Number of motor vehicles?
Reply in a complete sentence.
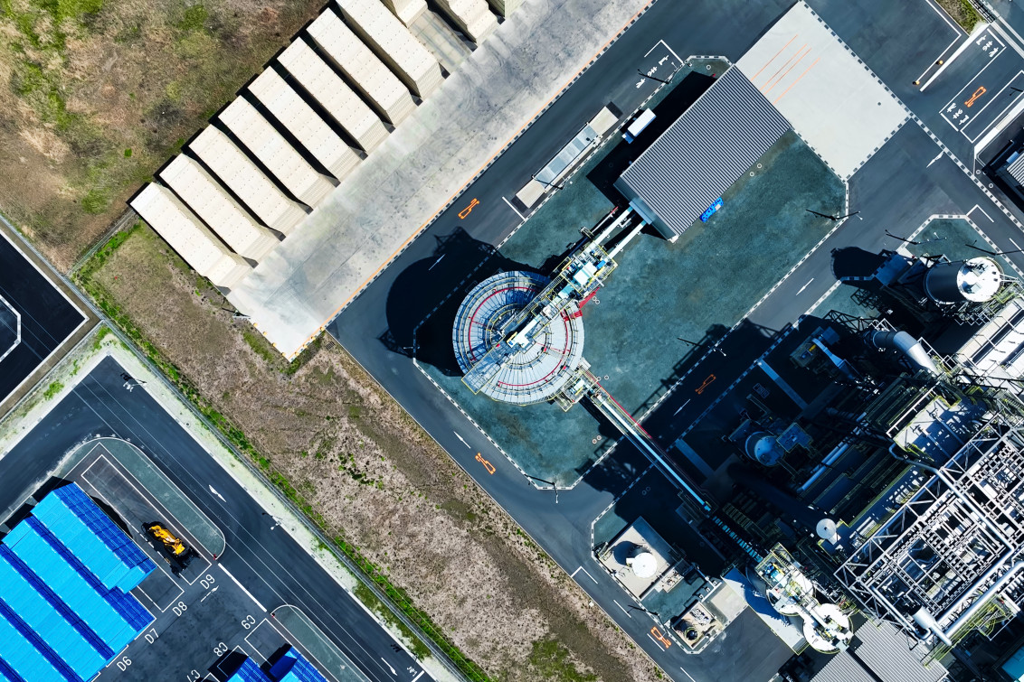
My tally gives 2 motor vehicles in this view.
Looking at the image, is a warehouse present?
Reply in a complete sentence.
Yes, there is a warehouse in the image.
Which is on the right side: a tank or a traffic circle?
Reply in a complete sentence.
There is a tank on the right side.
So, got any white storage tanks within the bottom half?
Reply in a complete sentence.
Yes, a white storage tank can be seen within the bottom half.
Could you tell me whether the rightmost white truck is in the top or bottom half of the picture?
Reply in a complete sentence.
It is in the top half that the rightmost white truck appears.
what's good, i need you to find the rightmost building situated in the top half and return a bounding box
[991,146,1024,205]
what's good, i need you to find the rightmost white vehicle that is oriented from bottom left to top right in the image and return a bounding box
[619,107,656,146]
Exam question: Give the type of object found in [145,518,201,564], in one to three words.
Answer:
work vehicle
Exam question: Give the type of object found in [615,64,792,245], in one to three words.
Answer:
warehouse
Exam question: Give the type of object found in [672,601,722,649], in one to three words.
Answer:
storage tank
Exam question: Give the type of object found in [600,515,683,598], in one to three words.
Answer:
storage tank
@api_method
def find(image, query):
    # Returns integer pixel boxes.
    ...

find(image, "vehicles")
[619,107,656,146]
[145,518,201,564]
